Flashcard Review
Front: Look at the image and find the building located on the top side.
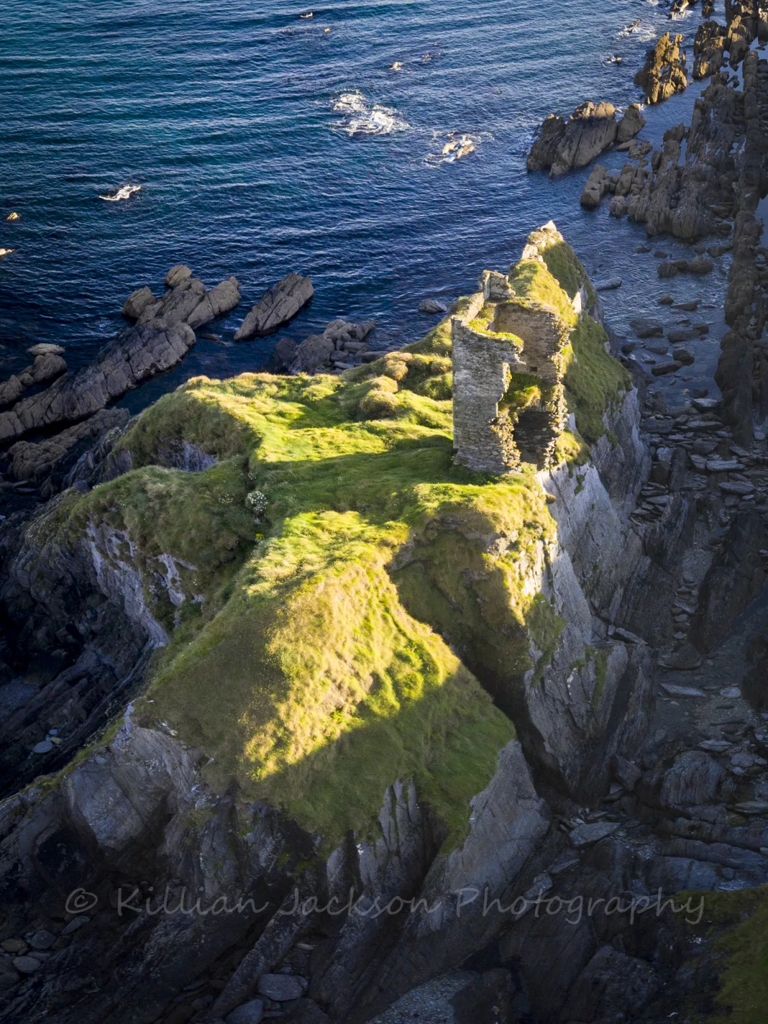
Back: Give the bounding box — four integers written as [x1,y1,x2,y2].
[451,257,574,481]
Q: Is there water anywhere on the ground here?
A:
Yes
